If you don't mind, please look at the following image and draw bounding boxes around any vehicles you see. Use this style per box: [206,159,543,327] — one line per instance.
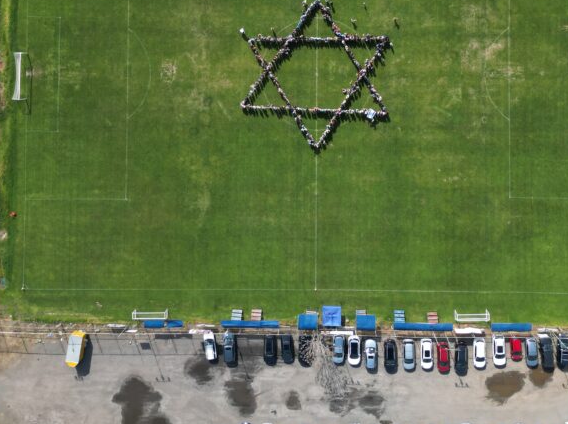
[384,340,399,372]
[558,335,568,371]
[262,335,276,367]
[402,338,417,370]
[540,336,558,371]
[420,338,435,370]
[493,335,509,367]
[363,338,378,371]
[473,339,488,367]
[62,331,85,370]
[511,337,525,363]
[298,335,313,367]
[347,337,361,365]
[202,332,217,361]
[280,334,295,365]
[455,343,470,375]
[526,337,541,368]
[332,335,346,365]
[437,341,451,372]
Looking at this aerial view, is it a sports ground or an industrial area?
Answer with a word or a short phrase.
sports ground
